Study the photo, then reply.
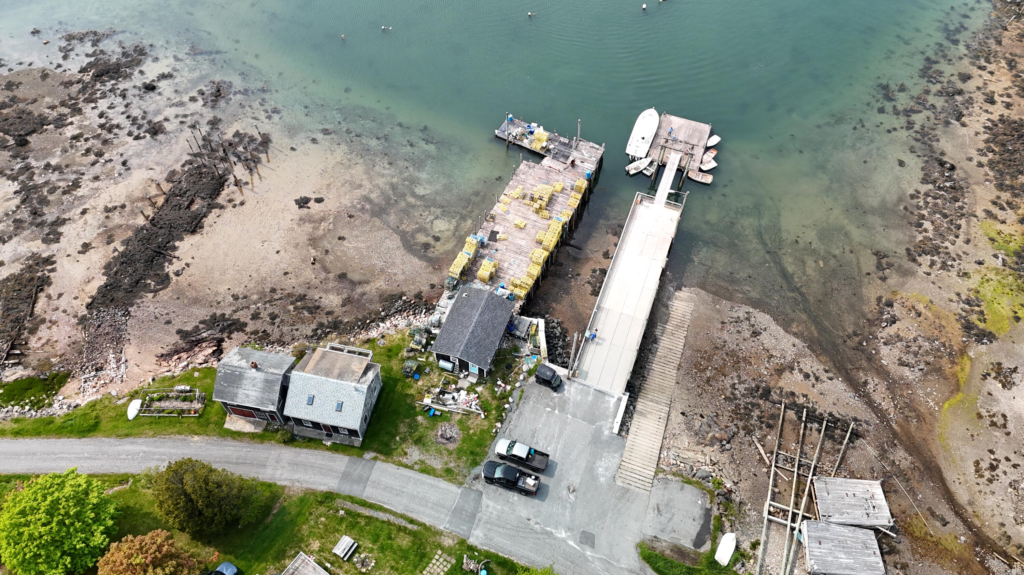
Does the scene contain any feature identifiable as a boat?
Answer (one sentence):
Yes, I can see a boat in this picture.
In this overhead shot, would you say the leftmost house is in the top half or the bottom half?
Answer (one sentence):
You can find the leftmost house in the bottom half.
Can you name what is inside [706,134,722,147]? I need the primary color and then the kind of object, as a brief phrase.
white boat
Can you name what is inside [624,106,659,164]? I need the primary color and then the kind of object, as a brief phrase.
white boat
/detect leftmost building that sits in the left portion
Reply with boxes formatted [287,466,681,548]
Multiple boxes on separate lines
[214,346,299,425]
